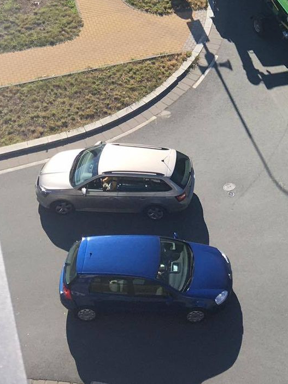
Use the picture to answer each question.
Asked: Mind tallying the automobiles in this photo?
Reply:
2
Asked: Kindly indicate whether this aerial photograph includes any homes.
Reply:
No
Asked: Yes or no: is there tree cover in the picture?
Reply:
No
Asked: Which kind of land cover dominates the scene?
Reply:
paved ground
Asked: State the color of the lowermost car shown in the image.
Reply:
blue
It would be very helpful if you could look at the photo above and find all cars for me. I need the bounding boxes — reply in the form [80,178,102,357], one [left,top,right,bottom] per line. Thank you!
[32,134,201,218]
[54,226,232,318]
